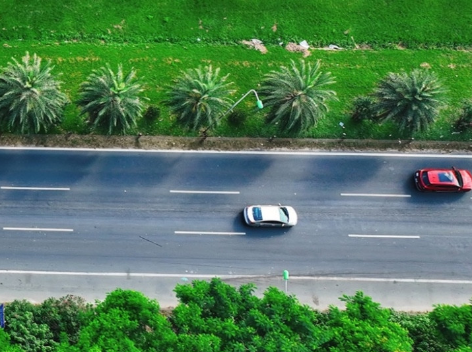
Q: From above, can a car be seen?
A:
Yes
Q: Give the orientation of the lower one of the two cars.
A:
from side to side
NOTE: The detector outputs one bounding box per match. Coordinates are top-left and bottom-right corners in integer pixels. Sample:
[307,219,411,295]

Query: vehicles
[241,202,297,228]
[412,166,472,192]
